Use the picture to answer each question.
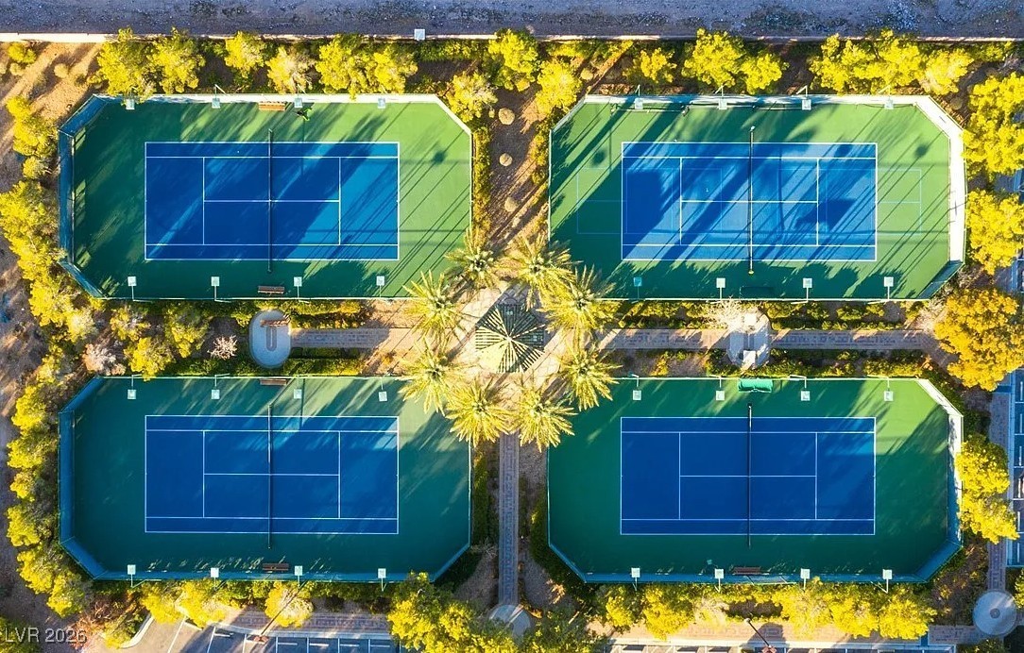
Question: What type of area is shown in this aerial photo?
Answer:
sports ground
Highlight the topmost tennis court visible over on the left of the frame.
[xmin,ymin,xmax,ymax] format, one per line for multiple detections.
[75,102,470,297]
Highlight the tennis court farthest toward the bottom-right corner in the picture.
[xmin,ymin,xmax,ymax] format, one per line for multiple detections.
[549,377,947,573]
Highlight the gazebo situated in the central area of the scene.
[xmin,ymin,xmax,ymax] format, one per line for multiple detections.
[473,300,547,374]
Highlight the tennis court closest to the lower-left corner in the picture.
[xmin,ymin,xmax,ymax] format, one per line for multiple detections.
[75,376,471,574]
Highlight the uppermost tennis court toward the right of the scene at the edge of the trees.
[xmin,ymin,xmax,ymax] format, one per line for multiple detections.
[551,103,948,299]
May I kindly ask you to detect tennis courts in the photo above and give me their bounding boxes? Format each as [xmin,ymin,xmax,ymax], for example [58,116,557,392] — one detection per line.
[549,377,947,573]
[75,376,471,574]
[551,103,948,299]
[75,102,470,297]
